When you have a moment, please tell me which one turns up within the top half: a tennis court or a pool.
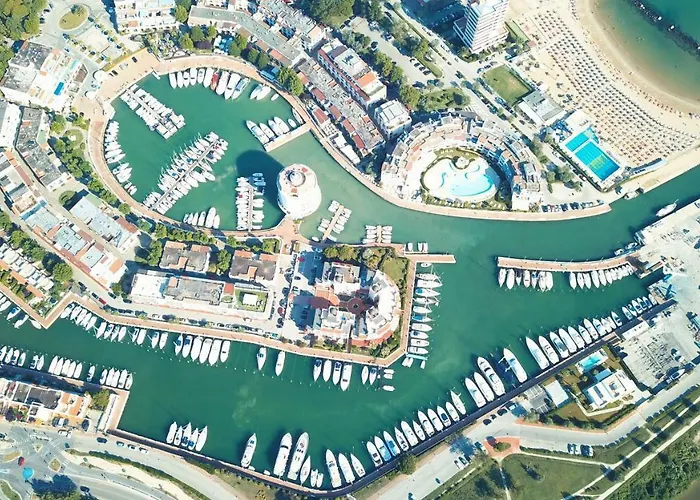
pool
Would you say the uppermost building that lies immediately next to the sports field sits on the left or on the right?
right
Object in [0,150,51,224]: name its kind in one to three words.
house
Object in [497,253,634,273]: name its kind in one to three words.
pier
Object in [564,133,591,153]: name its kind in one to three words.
swimming pool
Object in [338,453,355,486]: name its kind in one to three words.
boat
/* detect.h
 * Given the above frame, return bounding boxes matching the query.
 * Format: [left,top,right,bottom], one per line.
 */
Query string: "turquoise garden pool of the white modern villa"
[578,350,601,369]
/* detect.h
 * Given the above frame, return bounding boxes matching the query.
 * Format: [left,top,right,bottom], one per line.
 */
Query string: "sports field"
[483,65,530,105]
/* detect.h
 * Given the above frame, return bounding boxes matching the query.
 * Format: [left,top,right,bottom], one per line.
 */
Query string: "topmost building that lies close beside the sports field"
[453,0,509,55]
